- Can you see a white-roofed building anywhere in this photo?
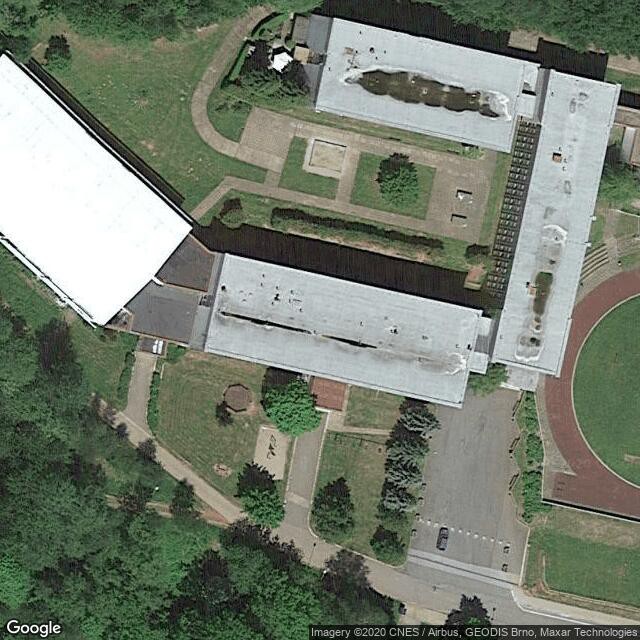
Yes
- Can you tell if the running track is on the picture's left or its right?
right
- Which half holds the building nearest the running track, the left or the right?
right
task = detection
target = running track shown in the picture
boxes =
[545,269,640,520]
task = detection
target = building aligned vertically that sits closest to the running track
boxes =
[481,59,621,378]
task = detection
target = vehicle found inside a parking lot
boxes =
[437,528,449,549]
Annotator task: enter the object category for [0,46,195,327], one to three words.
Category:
building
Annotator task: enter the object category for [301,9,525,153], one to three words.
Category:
building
